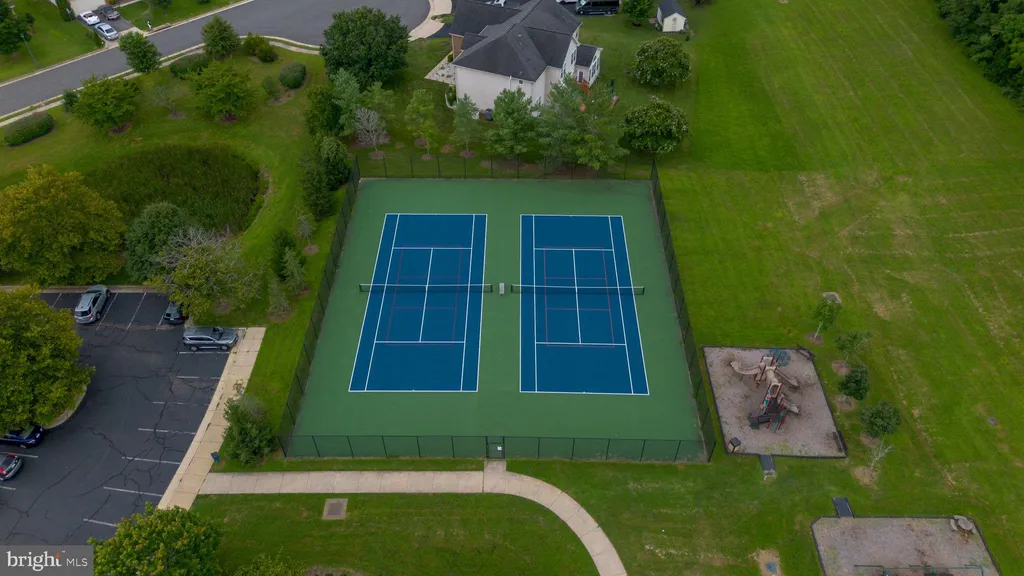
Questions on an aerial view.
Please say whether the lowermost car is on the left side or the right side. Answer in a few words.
left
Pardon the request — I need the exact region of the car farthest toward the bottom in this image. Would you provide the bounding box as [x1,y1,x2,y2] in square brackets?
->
[0,451,28,480]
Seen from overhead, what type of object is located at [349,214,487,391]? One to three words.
tennis court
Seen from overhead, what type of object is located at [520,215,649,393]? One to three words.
tennis court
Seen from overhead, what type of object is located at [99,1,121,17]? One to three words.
car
